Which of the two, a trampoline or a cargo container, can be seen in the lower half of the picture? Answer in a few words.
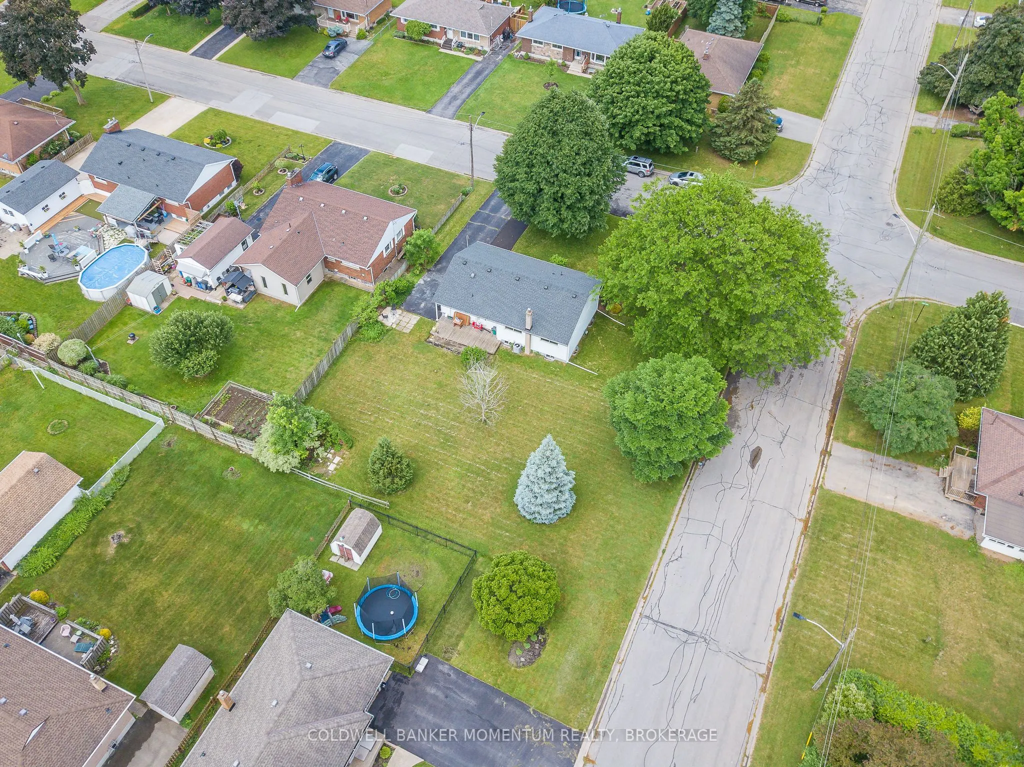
trampoline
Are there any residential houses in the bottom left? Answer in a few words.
Yes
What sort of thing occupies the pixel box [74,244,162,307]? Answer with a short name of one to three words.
swimming pool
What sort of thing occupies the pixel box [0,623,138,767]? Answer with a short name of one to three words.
house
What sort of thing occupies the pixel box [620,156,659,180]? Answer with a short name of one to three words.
car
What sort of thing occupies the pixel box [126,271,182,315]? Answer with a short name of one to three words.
shed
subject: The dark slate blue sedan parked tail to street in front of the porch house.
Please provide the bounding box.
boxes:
[319,43,348,62]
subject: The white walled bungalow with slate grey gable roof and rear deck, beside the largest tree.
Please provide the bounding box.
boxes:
[436,244,621,374]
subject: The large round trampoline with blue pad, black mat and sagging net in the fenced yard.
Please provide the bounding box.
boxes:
[352,570,419,646]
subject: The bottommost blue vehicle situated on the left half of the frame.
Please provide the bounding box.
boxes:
[307,158,340,183]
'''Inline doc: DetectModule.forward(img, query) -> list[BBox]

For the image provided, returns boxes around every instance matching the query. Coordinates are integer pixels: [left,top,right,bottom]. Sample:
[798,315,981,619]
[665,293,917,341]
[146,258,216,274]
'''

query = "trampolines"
[352,570,419,646]
[557,0,587,13]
